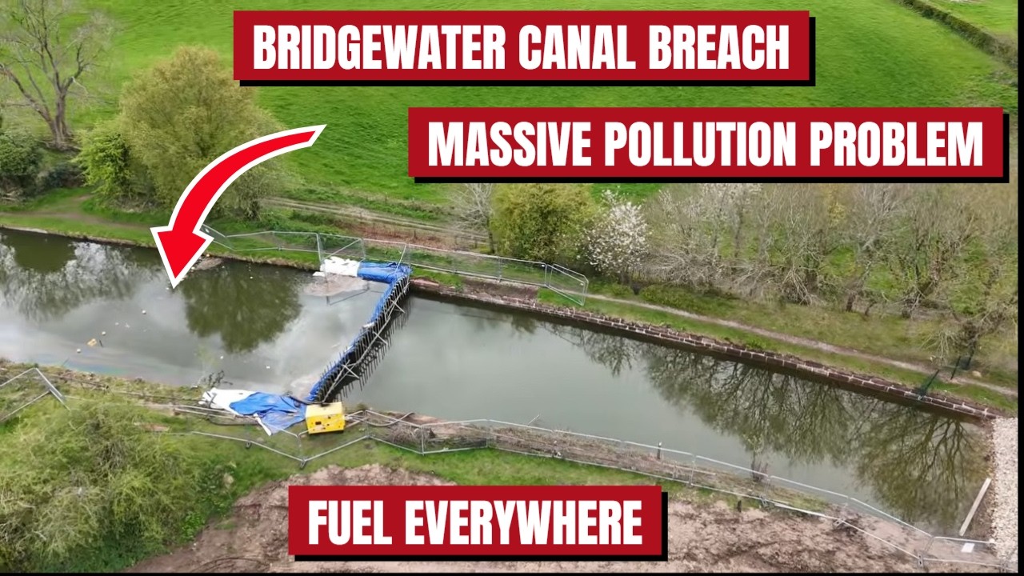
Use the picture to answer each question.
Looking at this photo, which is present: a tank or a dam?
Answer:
dam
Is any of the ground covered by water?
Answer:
Yes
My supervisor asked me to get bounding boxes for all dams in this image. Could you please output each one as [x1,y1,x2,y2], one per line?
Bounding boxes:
[301,272,414,406]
